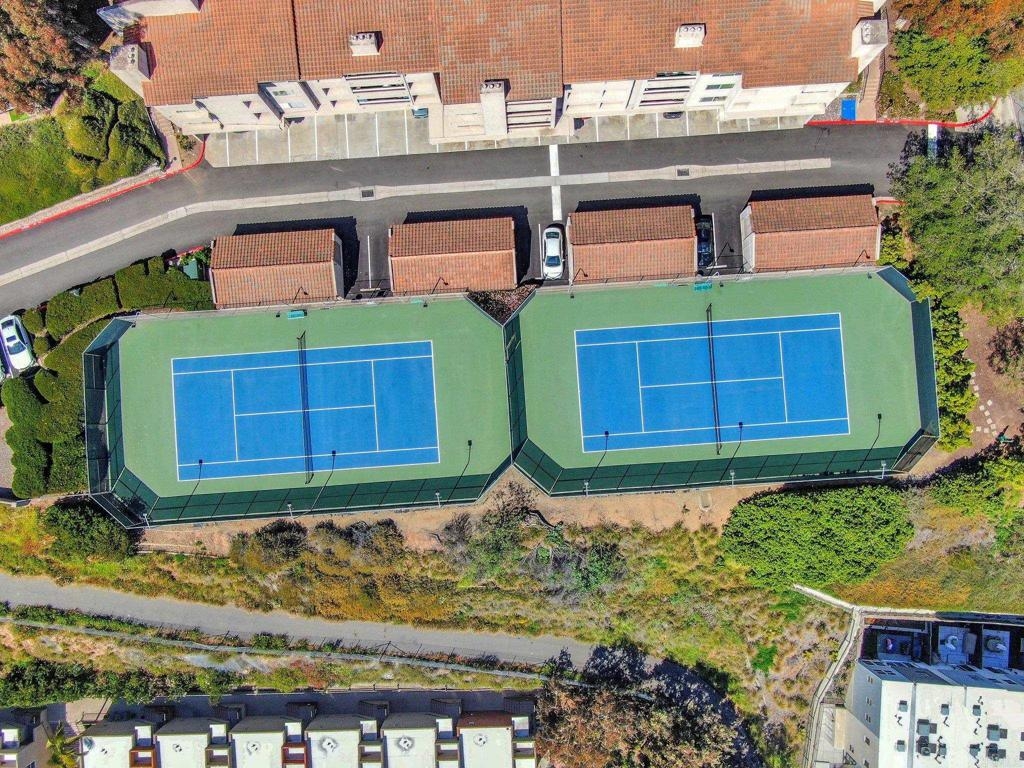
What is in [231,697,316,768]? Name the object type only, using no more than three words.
house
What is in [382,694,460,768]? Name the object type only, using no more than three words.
house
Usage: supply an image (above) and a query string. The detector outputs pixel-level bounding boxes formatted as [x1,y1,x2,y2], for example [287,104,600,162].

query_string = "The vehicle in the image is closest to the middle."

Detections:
[541,226,566,280]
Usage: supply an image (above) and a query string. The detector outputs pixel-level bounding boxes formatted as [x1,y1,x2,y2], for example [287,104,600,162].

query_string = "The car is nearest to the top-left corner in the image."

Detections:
[0,318,38,373]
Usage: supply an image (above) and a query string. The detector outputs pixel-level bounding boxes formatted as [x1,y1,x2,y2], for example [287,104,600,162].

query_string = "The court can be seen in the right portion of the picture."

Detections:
[504,273,921,491]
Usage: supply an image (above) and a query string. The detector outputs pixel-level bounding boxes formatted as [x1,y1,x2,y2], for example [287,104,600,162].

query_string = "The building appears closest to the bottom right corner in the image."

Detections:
[853,664,1024,768]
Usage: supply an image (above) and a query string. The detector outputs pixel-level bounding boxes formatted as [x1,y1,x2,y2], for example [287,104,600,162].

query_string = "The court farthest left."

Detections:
[104,302,511,523]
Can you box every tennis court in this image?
[104,302,511,523]
[504,273,921,491]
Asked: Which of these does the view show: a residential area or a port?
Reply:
residential area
